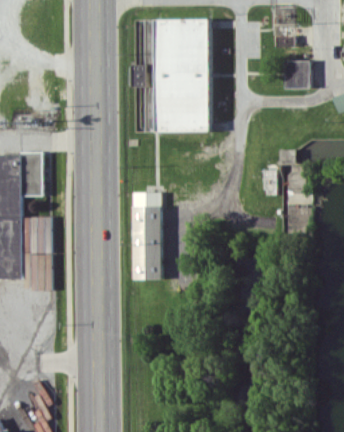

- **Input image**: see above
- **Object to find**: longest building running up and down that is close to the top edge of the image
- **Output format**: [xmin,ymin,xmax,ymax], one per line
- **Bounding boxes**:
[156,18,210,134]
